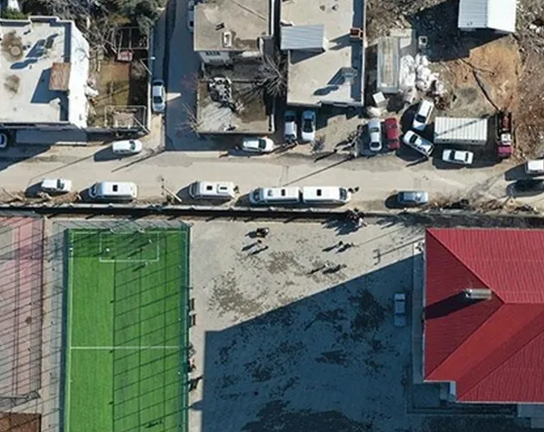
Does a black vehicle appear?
Yes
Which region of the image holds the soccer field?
bottom left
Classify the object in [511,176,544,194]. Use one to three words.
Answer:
car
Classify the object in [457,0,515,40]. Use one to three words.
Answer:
shed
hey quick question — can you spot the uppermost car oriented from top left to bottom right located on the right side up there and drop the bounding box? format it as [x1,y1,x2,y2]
[399,130,436,159]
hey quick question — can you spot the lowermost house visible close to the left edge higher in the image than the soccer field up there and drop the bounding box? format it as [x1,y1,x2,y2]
[0,17,94,135]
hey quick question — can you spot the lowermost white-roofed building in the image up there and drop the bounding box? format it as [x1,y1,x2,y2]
[433,117,488,146]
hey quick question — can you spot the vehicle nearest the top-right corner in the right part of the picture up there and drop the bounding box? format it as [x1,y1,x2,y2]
[497,114,515,159]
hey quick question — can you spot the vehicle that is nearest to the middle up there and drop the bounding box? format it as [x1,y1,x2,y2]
[253,186,299,206]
